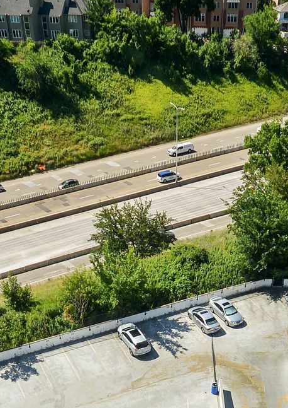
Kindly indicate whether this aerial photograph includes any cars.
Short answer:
Yes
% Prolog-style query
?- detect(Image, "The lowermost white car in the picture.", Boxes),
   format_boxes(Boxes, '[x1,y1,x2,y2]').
[118,323,152,357]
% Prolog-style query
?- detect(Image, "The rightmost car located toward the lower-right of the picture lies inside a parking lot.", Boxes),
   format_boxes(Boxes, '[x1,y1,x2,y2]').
[209,296,242,328]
